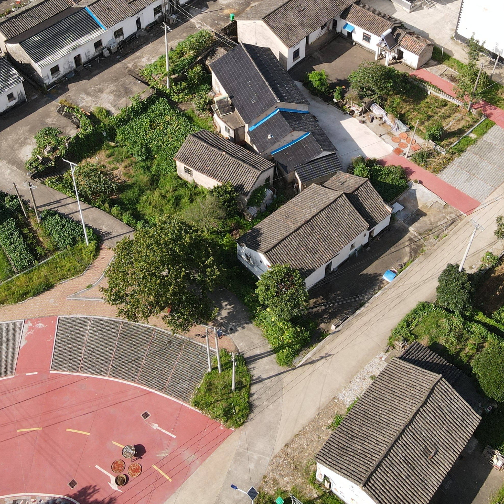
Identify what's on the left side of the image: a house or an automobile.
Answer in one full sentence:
You can see a house on the left side of the image.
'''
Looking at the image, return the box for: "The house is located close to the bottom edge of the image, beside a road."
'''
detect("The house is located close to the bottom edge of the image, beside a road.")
[315,359,482,504]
